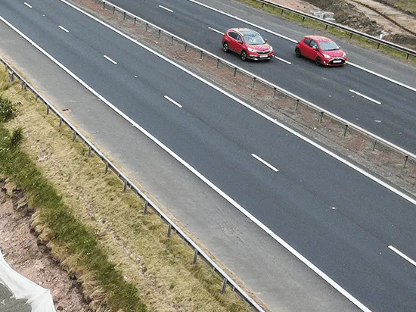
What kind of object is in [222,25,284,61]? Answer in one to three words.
car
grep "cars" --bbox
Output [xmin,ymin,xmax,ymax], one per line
[222,25,284,61]
[293,32,353,66]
